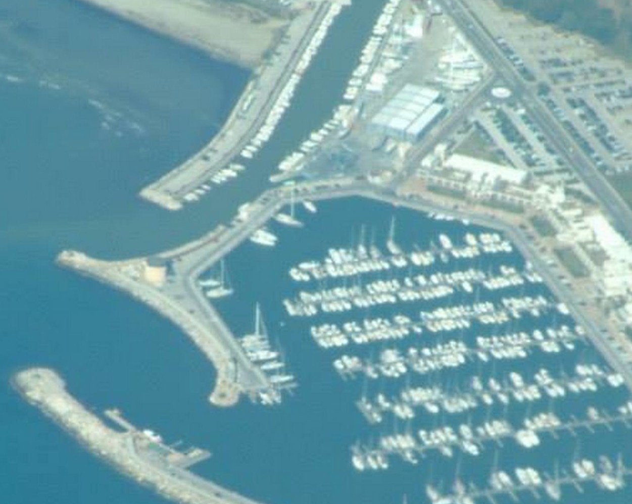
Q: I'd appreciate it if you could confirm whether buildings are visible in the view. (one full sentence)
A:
Yes, the frame does contain a building.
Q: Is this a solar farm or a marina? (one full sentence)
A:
The area seen from above is a marina.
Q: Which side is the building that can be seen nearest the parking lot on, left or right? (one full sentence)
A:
It is on the right.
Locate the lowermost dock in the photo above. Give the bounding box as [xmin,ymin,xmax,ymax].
[441,460,632,504]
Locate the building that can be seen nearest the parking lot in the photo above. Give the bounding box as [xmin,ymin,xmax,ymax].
[445,153,525,190]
